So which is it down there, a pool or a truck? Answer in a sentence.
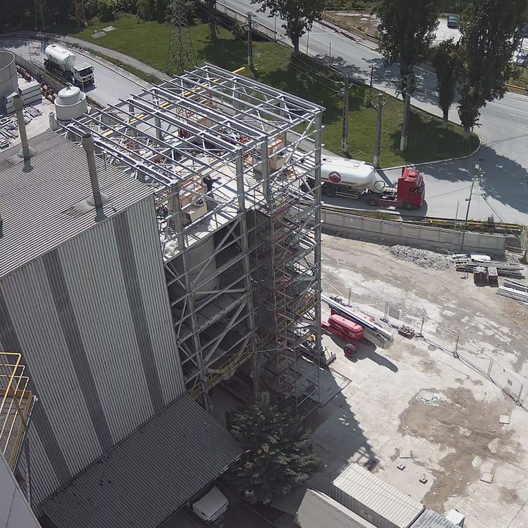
There is a truck in the scene.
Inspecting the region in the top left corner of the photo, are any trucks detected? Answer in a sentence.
Yes, in the top left corner of the photo there is a truck.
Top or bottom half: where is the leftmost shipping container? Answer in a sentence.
It is in the bottom half that the leftmost shipping container appears.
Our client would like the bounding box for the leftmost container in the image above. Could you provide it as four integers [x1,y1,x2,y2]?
[334,461,428,528]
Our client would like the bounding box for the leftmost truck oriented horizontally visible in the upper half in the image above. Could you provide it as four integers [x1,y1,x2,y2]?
[310,155,424,209]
